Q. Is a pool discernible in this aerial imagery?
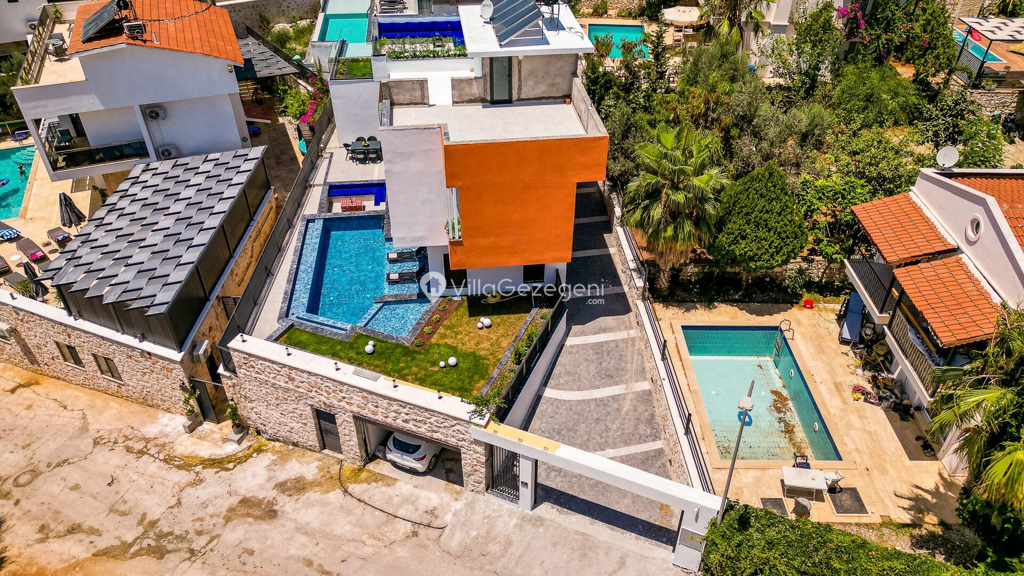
Yes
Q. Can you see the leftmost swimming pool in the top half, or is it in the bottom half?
top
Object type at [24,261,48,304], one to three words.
umbrella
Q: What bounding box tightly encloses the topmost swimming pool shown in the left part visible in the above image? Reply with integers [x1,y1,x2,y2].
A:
[307,0,374,127]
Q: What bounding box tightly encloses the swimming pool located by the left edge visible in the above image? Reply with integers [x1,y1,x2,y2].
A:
[0,140,39,223]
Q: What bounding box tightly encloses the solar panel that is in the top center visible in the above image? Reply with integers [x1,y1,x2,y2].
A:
[483,0,543,46]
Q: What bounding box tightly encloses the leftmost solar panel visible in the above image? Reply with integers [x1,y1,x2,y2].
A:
[84,5,122,60]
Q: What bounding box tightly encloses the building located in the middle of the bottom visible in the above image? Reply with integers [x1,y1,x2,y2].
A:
[351,362,505,494]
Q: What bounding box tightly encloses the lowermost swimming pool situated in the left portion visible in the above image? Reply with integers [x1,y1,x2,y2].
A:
[265,204,443,370]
